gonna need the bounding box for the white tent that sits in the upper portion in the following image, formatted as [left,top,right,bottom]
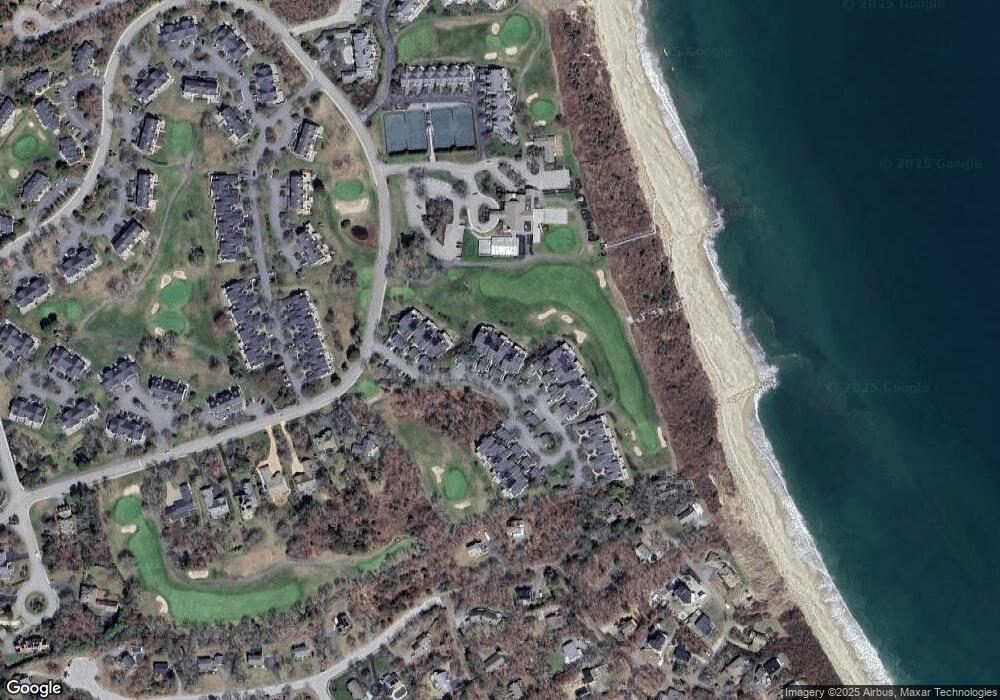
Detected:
[492,237,519,256]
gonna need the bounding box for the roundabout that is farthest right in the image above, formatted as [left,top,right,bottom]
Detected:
[468,196,500,233]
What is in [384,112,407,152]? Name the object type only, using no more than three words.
tennis court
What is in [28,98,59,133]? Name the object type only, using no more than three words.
building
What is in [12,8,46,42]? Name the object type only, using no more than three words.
roundabout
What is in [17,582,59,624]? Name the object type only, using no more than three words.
roundabout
